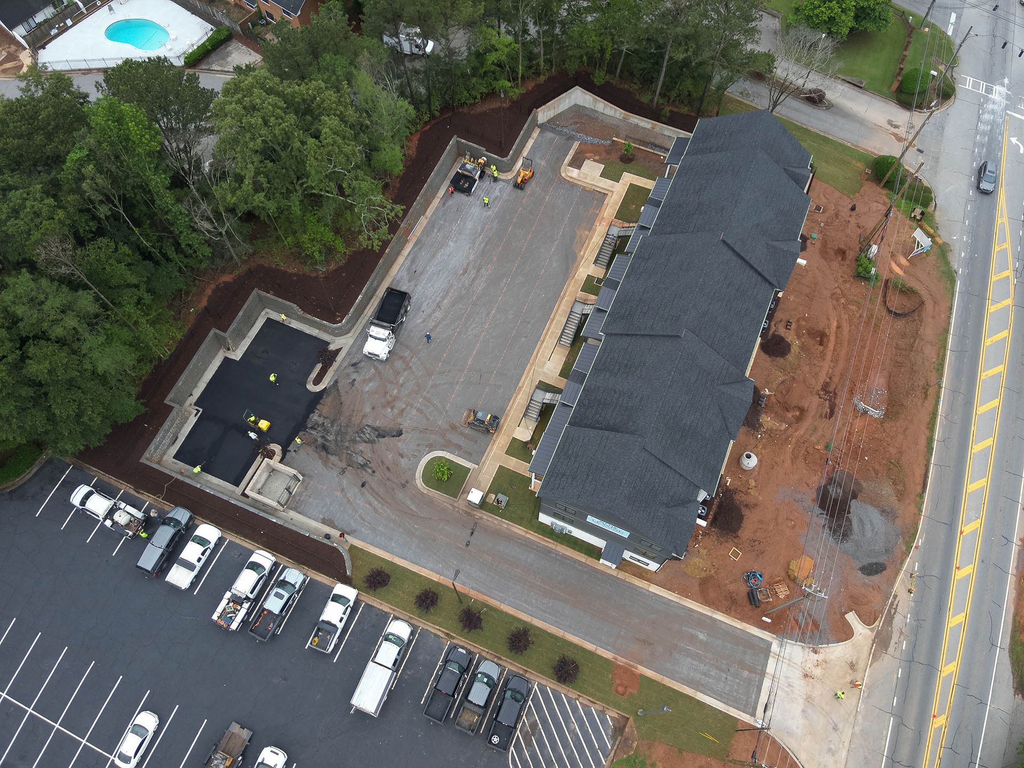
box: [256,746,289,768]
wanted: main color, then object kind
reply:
white car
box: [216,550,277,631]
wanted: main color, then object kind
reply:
white truck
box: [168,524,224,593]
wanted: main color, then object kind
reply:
white truck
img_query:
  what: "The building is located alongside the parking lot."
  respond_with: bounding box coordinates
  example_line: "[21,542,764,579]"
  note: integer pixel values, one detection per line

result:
[526,114,821,572]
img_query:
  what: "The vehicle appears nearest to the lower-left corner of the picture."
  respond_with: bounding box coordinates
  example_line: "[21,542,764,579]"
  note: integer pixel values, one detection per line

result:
[112,709,161,768]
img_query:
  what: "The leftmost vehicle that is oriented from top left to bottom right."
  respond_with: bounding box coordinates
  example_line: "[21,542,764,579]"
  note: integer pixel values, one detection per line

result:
[69,484,149,544]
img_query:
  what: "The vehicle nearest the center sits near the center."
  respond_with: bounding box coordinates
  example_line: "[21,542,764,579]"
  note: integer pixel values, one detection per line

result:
[462,408,500,435]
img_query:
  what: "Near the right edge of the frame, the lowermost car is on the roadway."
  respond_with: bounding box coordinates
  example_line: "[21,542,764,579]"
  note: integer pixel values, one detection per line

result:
[974,158,999,198]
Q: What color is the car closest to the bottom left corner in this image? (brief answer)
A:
white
